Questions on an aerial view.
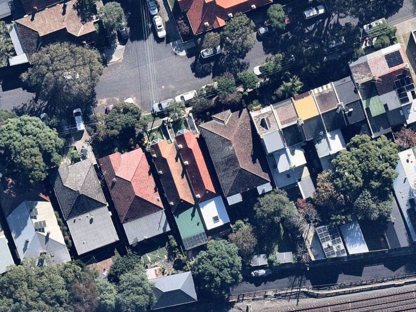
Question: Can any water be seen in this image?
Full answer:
No, the picture contains no water.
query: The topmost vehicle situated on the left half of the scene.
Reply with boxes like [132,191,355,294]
[145,0,159,17]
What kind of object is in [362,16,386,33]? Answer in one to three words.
car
